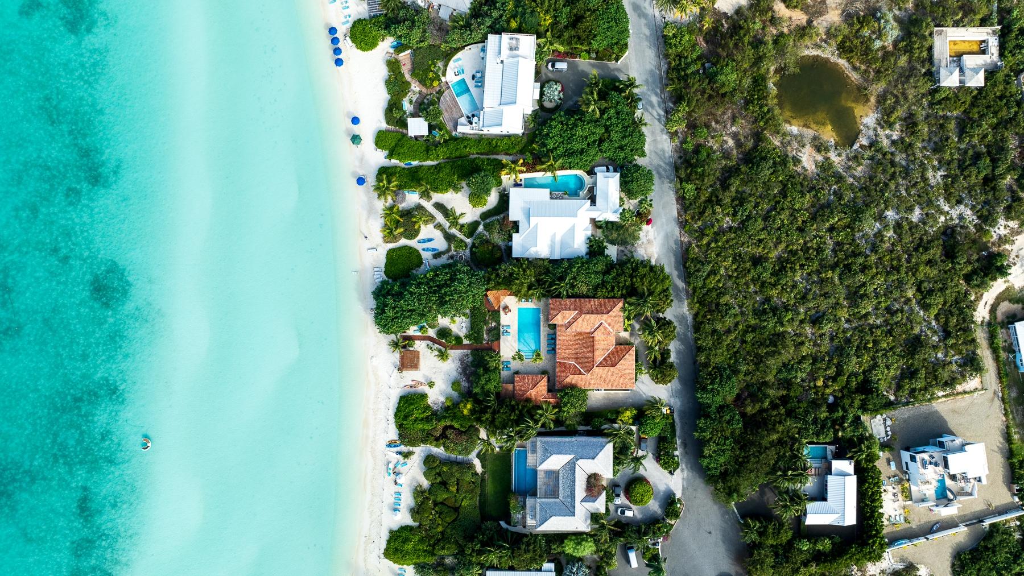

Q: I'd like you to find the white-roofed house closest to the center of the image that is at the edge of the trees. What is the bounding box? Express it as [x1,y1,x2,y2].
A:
[509,172,623,259]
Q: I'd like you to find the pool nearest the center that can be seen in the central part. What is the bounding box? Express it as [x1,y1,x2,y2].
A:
[517,307,542,361]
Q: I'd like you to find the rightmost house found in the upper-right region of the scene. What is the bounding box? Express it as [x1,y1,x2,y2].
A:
[928,26,1004,89]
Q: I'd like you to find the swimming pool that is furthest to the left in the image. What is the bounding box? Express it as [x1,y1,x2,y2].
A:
[448,75,481,117]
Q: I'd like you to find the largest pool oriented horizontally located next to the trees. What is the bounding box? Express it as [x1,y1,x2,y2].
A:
[523,173,586,197]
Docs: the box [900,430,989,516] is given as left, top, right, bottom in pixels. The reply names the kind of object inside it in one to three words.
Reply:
house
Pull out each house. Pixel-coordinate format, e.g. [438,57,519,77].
[900,430,989,516]
[1008,320,1024,373]
[486,563,555,576]
[802,459,857,526]
[549,298,635,392]
[431,0,472,22]
[457,33,540,136]
[928,26,1004,89]
[509,172,623,259]
[526,436,613,531]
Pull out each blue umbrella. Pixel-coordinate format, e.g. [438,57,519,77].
[357,177,366,186]
[335,58,344,67]
[329,27,338,36]
[351,116,360,125]
[333,47,343,57]
[331,37,340,46]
